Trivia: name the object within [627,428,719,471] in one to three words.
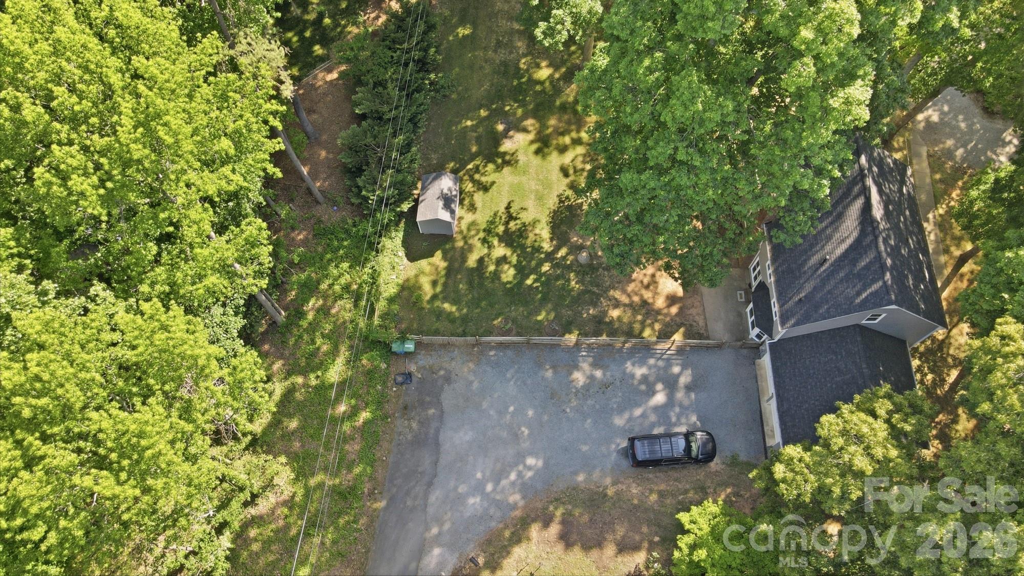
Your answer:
car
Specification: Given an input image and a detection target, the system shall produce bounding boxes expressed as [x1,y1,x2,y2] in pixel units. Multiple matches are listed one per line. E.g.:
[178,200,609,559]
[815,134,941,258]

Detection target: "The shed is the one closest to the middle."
[416,167,460,236]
